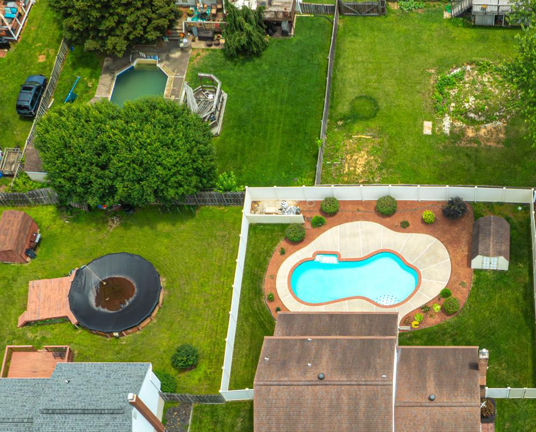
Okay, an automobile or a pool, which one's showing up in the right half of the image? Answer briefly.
pool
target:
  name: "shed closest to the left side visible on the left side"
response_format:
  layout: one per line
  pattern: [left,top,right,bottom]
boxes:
[0,208,43,266]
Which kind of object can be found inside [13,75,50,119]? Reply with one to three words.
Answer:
car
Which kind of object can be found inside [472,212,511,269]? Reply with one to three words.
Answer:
shed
